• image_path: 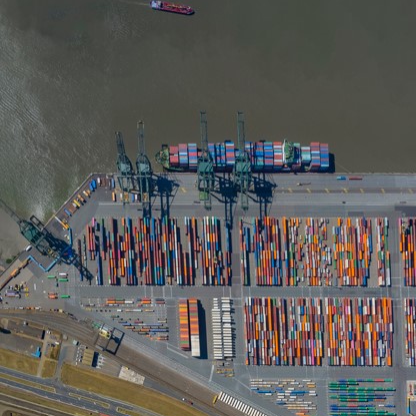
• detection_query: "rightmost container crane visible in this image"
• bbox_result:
[231,117,258,209]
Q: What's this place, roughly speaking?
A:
port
